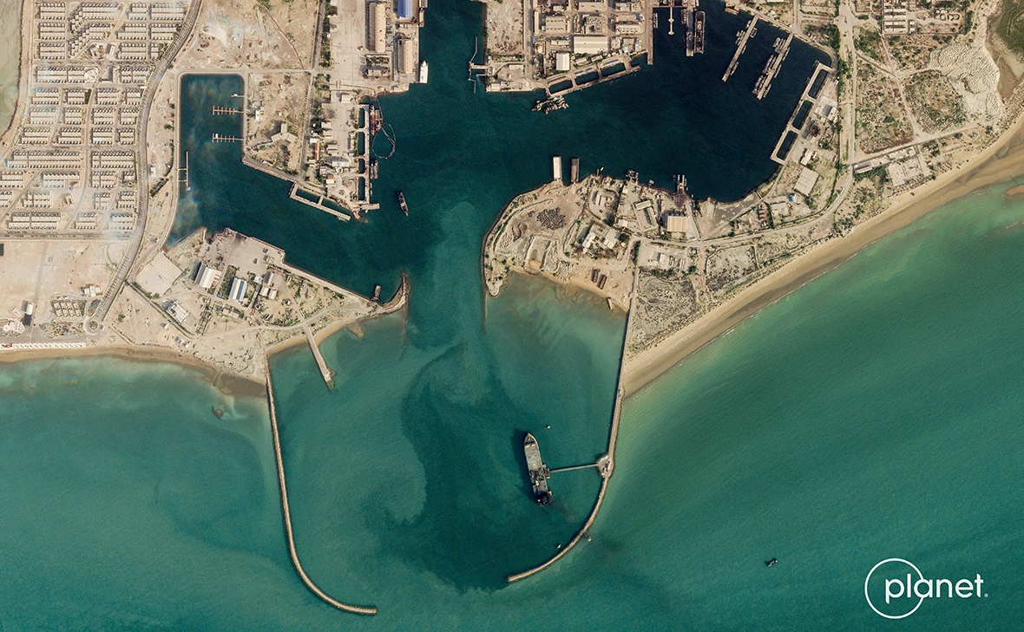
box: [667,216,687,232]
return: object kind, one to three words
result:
building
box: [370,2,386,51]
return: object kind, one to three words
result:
building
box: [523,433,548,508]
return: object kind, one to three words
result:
ship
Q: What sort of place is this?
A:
port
